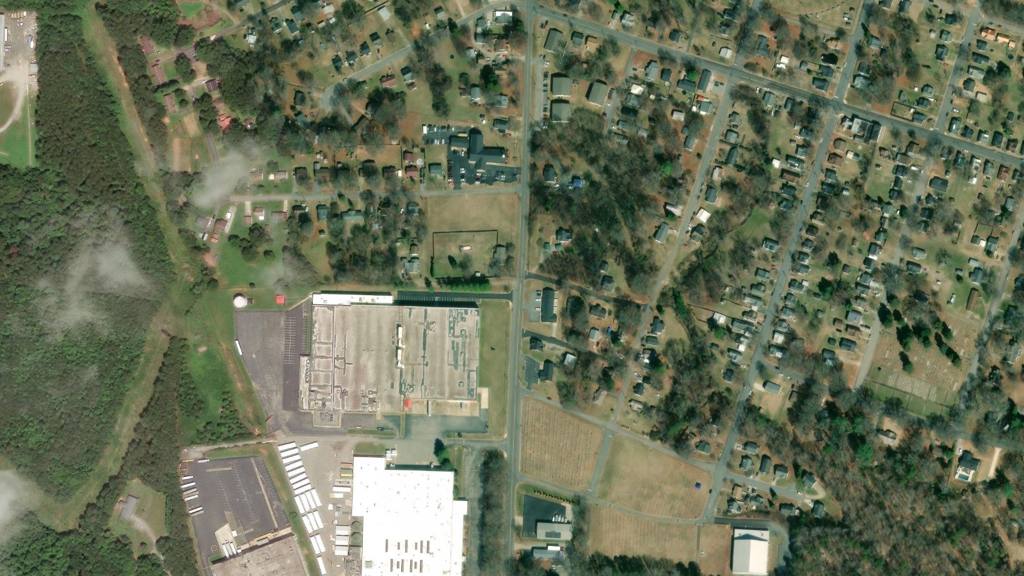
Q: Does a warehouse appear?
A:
Yes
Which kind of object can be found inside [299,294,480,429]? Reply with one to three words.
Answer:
warehouse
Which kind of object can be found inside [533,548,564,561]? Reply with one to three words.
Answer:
house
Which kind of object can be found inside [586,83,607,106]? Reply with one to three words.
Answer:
building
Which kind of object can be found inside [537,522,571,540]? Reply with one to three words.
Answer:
house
